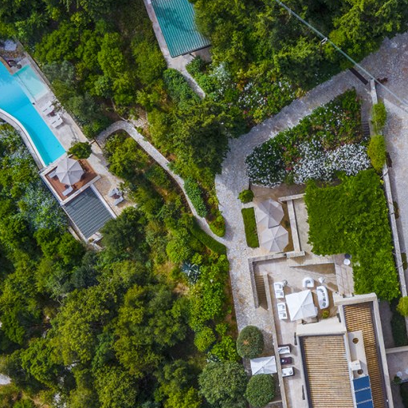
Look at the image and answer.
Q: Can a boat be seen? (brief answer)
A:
No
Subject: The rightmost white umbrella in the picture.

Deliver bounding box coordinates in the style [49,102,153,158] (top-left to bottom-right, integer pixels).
[283,287,320,323]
